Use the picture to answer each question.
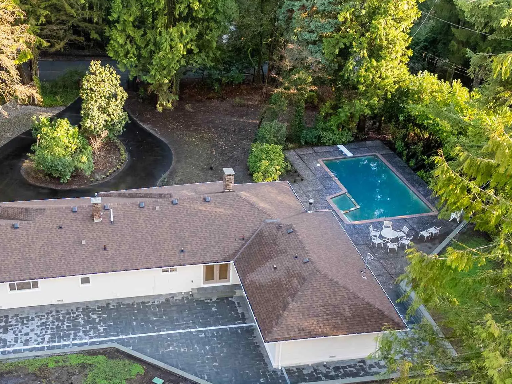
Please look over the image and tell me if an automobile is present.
No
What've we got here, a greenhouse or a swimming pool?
swimming pool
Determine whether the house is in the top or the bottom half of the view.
bottom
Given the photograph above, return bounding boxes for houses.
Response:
[0,164,410,369]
